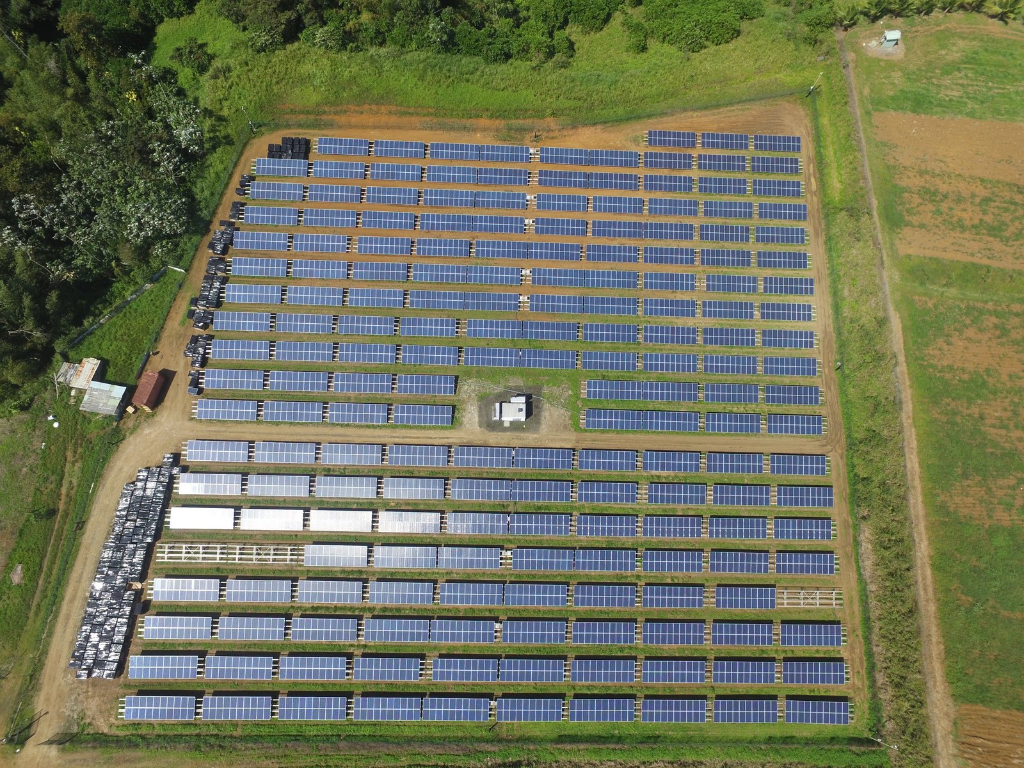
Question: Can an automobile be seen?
No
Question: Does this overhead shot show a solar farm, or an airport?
solar farm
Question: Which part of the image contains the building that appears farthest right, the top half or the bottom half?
top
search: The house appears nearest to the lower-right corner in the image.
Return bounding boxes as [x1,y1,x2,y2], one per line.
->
[502,403,526,421]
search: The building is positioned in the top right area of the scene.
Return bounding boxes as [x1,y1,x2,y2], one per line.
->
[875,29,903,49]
